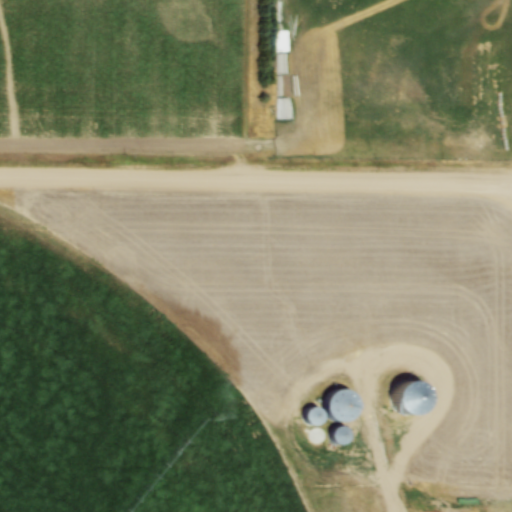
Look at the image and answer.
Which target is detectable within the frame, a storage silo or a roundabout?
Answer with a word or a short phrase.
storage silo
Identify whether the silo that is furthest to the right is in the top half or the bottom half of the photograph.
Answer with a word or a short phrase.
bottom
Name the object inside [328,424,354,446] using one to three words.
silo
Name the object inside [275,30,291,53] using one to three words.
barn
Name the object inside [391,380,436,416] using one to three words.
silo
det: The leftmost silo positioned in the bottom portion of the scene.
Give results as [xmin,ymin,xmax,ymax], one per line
[302,406,328,427]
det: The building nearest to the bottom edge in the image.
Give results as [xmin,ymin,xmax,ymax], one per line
[275,98,294,120]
